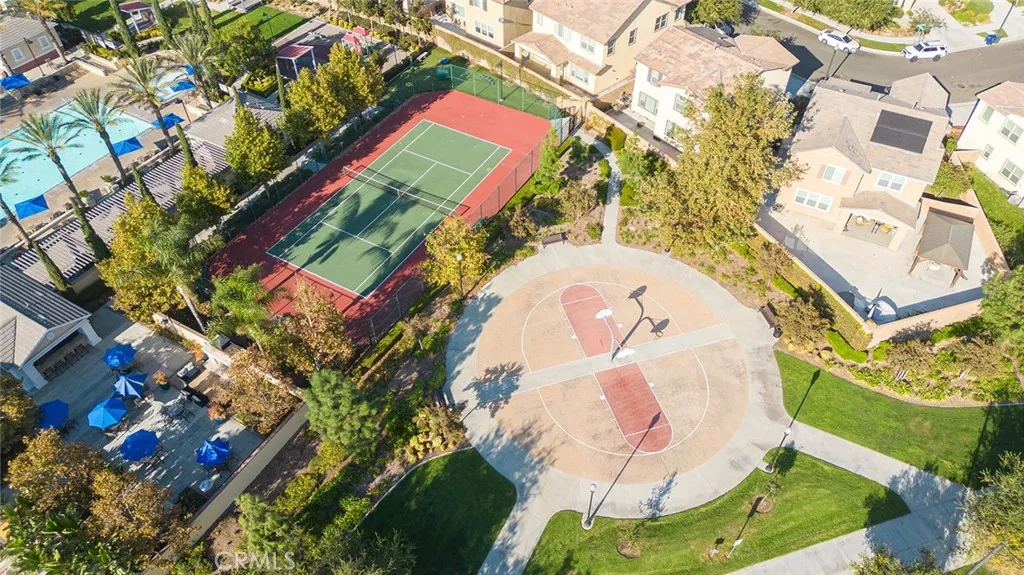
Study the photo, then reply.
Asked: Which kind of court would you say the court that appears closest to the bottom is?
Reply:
basketball court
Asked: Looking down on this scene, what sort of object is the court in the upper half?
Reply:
tennis court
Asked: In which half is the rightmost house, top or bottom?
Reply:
top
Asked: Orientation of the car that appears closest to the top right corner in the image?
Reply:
horizontally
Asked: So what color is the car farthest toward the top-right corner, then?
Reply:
white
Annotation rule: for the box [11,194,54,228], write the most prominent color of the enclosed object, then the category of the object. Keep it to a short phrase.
blue umbrella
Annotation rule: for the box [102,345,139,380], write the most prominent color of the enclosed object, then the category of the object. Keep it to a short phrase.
blue umbrella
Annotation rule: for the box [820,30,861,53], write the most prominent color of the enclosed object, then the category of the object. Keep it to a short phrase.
white car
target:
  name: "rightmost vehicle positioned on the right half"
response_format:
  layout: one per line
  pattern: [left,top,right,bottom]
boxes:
[905,39,951,62]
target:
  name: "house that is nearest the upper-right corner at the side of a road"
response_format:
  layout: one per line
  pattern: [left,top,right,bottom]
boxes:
[958,74,1024,193]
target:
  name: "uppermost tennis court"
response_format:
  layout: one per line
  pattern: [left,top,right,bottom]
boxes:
[211,88,557,352]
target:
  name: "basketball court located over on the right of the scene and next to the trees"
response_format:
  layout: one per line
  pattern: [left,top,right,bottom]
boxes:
[481,267,749,479]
